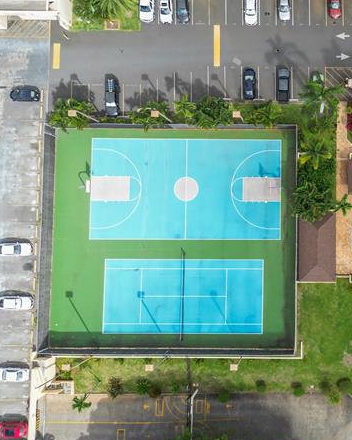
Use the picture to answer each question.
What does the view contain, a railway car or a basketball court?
basketball court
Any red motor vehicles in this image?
Yes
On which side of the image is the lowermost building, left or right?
right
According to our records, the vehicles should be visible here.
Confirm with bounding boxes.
[0,366,31,384]
[0,421,29,440]
[241,68,256,101]
[327,0,341,20]
[102,76,120,115]
[137,0,154,22]
[0,296,36,312]
[0,241,34,258]
[174,0,190,24]
[243,0,258,26]
[157,0,173,24]
[9,86,41,102]
[274,68,289,102]
[276,0,290,22]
